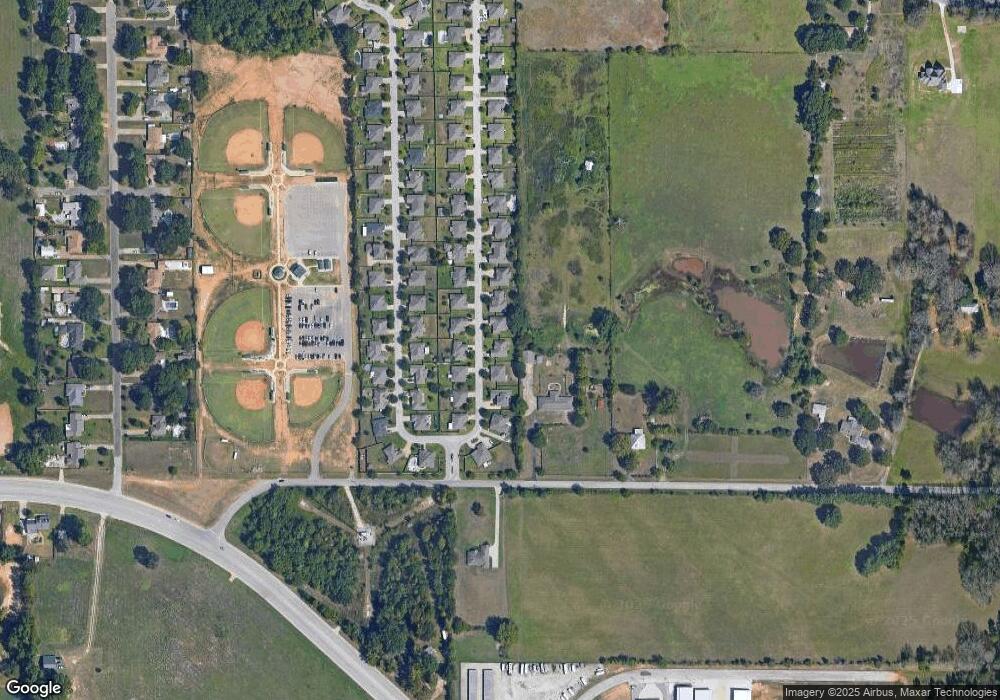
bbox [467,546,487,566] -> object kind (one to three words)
house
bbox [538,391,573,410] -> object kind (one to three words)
house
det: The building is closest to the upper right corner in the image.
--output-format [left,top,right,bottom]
[918,68,945,90]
